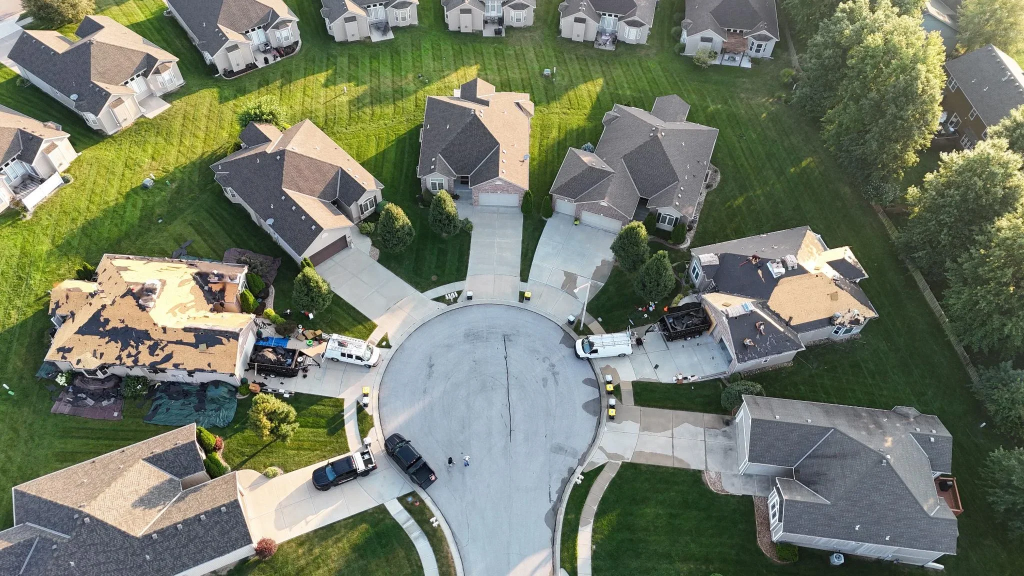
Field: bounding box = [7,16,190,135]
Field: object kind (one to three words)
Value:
house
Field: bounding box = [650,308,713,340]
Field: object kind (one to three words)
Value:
trailer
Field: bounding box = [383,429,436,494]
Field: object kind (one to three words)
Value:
truck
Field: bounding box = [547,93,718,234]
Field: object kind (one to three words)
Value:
house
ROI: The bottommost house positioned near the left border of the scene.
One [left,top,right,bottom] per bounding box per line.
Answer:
[0,422,255,576]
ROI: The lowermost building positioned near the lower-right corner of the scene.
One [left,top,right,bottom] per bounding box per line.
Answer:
[736,392,961,568]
